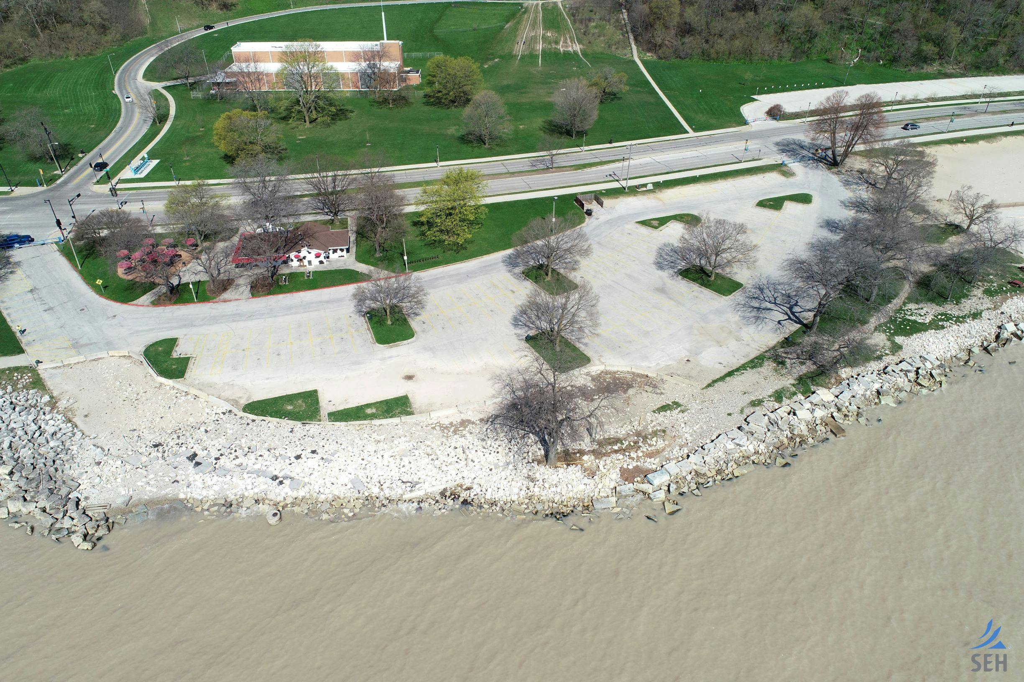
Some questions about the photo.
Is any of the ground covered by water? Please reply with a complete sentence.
Yes, some water is visible.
